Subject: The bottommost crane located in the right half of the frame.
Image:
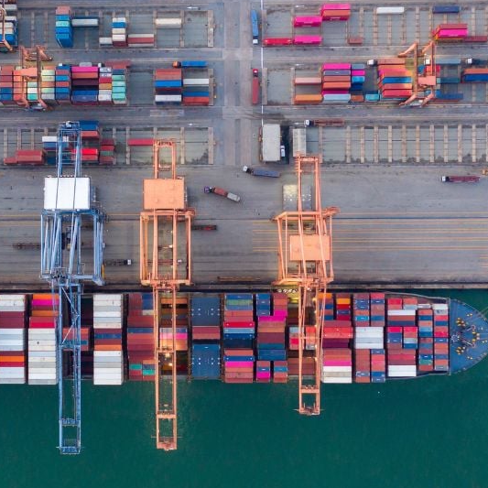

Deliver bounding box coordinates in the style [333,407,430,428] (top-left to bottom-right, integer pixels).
[262,152,347,415]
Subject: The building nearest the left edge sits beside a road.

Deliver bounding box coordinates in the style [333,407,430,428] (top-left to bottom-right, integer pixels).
[258,124,280,162]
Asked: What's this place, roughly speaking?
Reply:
port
